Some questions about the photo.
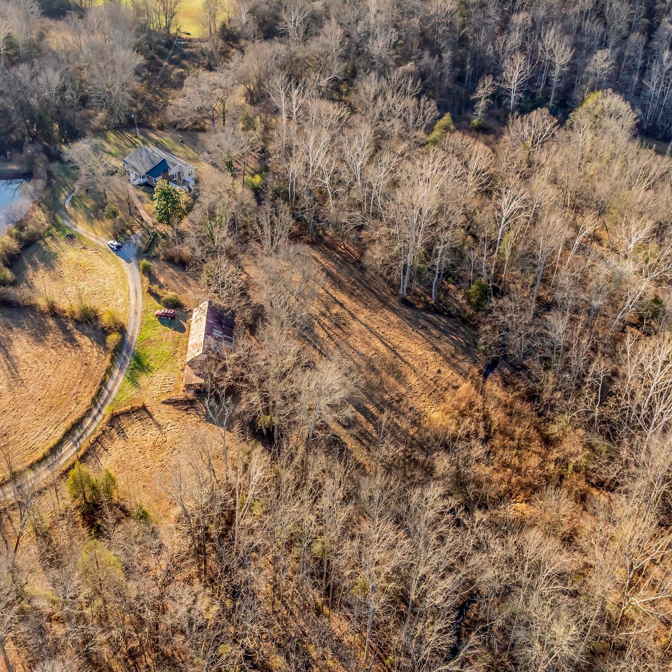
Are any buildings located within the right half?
No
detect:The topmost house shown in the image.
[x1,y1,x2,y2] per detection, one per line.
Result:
[120,144,200,190]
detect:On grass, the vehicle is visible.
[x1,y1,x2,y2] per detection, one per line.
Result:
[154,309,177,322]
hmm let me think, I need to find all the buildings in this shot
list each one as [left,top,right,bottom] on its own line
[120,144,200,190]
[180,296,239,398]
